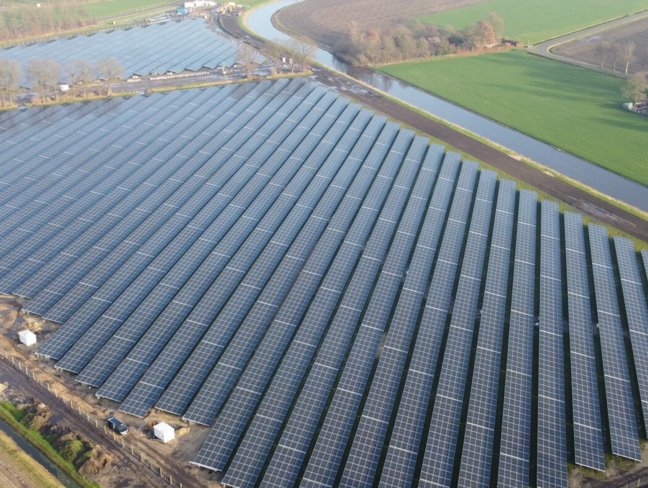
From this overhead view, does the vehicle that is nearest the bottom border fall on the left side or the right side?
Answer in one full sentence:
It is on the left.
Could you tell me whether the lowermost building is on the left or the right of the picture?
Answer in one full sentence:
You can find the lowermost building on the left side of the picture.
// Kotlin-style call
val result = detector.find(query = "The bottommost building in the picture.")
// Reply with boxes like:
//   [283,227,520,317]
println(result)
[155,419,176,443]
